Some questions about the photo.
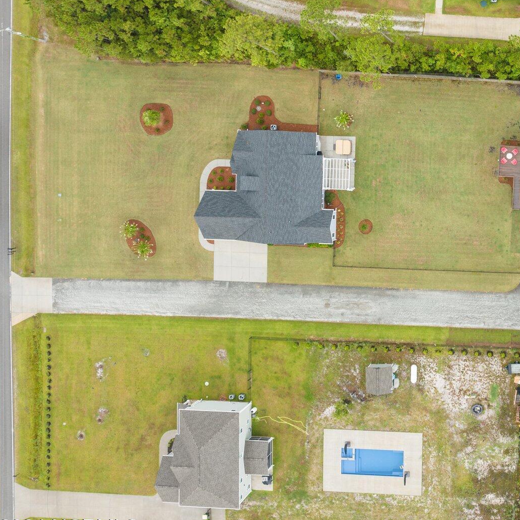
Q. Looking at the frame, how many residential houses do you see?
2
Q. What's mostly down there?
grass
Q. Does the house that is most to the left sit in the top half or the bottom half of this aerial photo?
bottom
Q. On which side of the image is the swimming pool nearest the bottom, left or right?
right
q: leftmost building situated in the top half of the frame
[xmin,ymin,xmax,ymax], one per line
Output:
[194,127,337,245]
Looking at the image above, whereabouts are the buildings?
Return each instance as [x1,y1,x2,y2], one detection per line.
[156,402,251,512]
[194,127,337,245]
[365,360,400,397]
